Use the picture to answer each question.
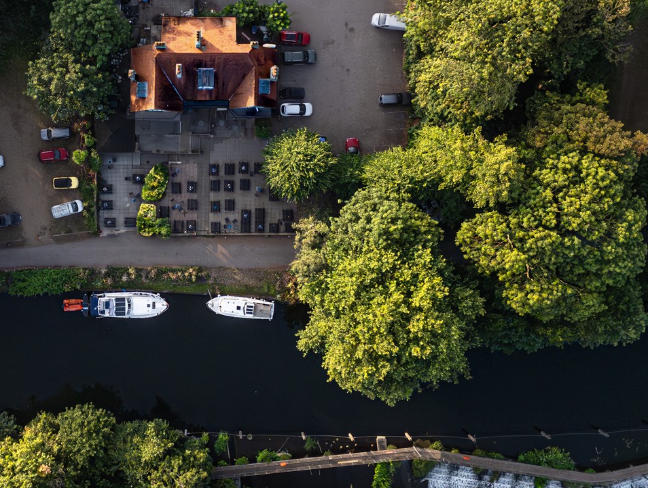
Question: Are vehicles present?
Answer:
Yes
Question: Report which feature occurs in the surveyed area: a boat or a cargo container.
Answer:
boat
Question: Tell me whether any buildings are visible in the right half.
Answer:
No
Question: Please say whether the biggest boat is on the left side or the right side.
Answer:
left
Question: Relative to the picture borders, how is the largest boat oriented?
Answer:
horizontally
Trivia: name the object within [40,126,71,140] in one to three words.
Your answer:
vehicle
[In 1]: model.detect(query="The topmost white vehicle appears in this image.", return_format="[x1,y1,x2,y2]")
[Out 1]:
[372,13,413,31]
